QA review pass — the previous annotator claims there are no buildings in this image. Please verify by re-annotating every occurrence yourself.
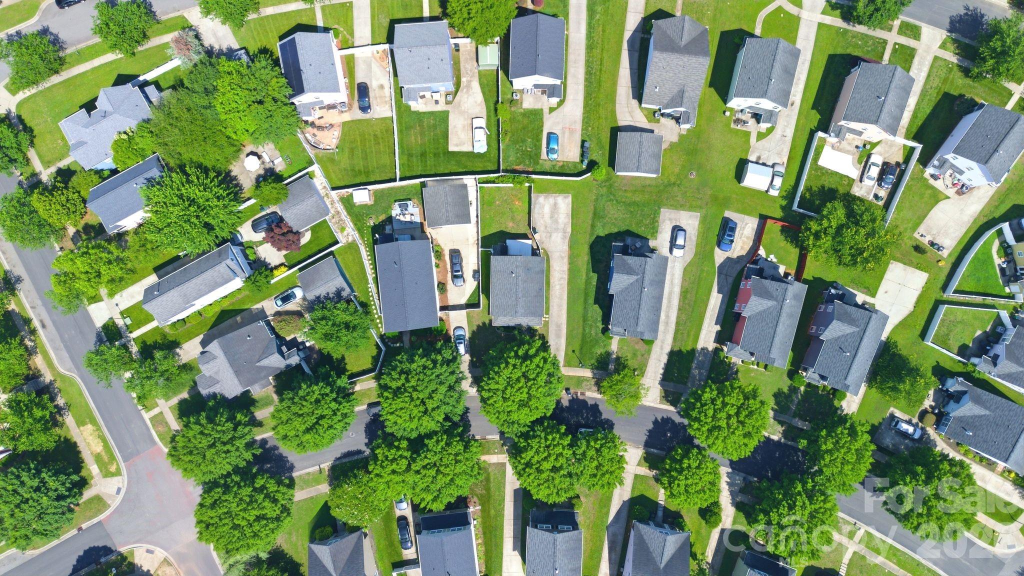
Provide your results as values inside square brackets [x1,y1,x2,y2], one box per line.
[353,189,372,204]
[509,14,566,102]
[275,174,332,232]
[60,77,163,170]
[195,320,305,398]
[924,100,1024,187]
[142,243,256,328]
[394,21,453,105]
[724,36,801,128]
[722,265,808,369]
[489,240,546,326]
[823,61,915,143]
[619,511,693,576]
[733,545,796,576]
[737,162,772,193]
[87,153,184,235]
[638,14,712,132]
[306,521,381,576]
[374,232,440,332]
[422,184,472,228]
[999,239,1024,295]
[416,507,479,576]
[614,131,664,178]
[931,376,1024,468]
[278,31,348,121]
[799,288,889,396]
[296,256,354,311]
[606,243,668,341]
[525,506,584,576]
[478,44,499,69]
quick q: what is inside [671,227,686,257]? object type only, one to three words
car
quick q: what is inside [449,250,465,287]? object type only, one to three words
vehicle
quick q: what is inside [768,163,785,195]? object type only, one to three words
car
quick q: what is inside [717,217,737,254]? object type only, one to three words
vehicle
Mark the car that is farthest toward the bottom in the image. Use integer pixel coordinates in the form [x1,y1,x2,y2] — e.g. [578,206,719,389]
[397,517,413,549]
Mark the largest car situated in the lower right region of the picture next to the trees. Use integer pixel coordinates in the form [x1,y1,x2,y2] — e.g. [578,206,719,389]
[889,417,922,439]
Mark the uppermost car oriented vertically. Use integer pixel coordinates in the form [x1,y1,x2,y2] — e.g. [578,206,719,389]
[357,83,372,114]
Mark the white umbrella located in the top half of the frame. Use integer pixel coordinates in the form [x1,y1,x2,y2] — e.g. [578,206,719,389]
[245,155,261,172]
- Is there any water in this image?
No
